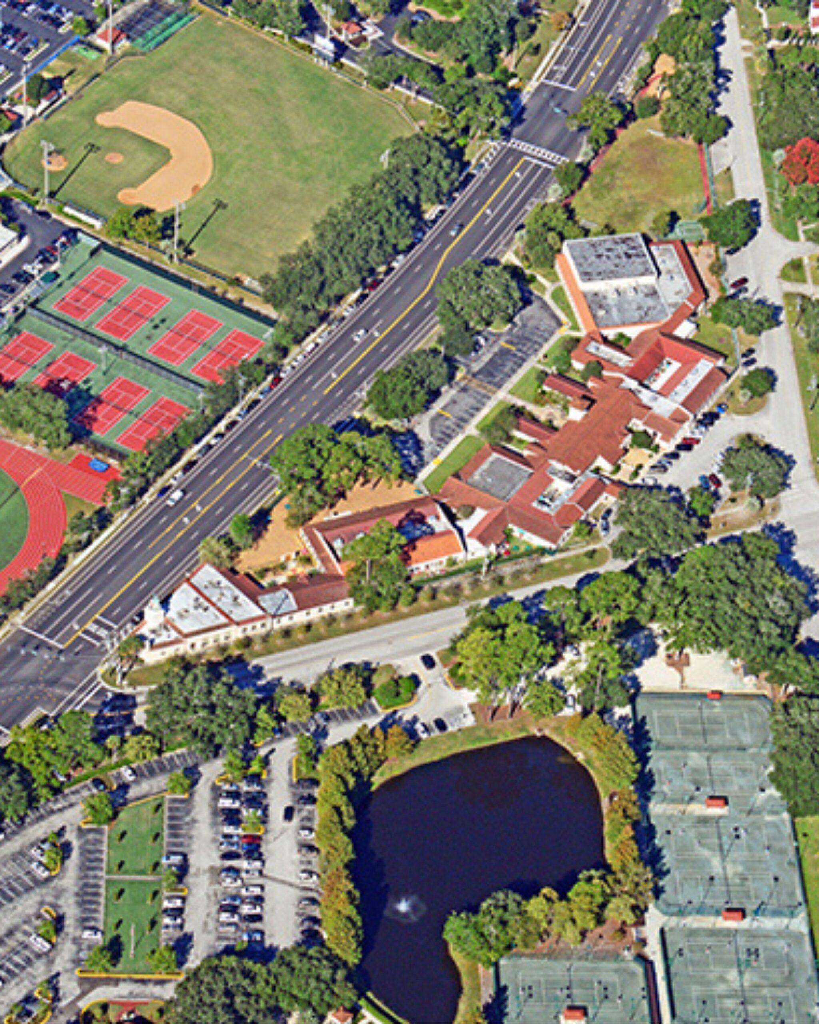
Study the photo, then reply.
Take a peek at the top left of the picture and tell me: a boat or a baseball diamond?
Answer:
baseball diamond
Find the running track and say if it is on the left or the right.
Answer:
left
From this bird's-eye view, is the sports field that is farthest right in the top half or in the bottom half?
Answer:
top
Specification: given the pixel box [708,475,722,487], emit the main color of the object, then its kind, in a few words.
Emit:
red vehicle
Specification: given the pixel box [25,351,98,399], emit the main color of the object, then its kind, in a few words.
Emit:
red tennis court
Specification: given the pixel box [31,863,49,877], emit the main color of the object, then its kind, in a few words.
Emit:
white car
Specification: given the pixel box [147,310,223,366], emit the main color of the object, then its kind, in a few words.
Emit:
red tennis court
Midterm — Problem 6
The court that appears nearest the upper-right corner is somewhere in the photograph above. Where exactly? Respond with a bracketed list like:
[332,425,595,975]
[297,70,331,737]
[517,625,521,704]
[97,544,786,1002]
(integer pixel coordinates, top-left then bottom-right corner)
[667,220,704,240]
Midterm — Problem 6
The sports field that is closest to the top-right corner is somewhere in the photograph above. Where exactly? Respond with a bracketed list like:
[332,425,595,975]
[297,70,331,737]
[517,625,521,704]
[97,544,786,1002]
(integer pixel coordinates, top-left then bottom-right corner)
[569,118,711,231]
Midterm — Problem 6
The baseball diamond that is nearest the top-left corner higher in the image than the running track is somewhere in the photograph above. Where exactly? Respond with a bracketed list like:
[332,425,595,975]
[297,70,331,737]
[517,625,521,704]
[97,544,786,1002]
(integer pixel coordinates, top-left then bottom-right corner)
[3,4,420,285]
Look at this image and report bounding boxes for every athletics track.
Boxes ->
[0,439,114,595]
